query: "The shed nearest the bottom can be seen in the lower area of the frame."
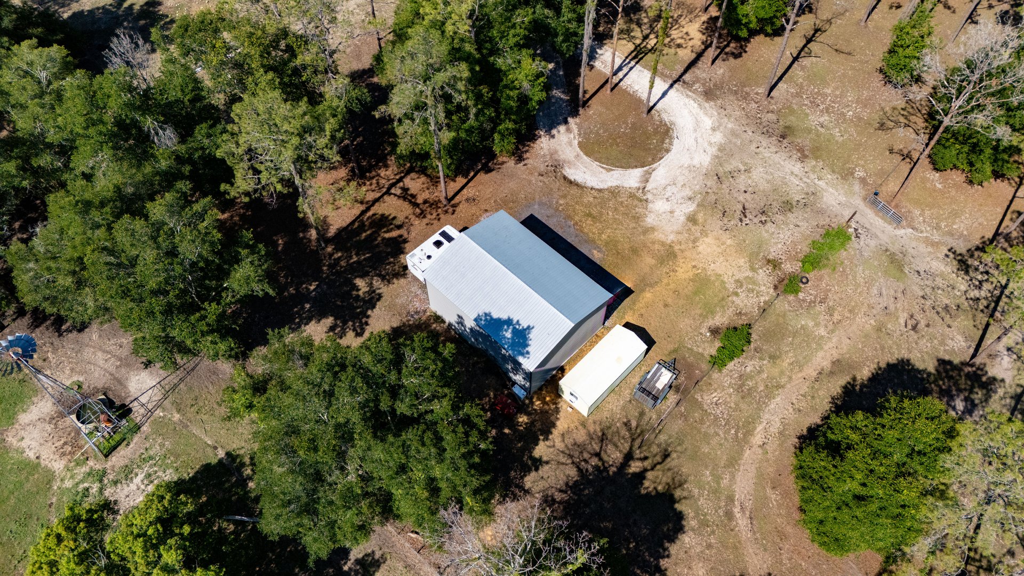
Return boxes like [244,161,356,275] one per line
[560,325,648,417]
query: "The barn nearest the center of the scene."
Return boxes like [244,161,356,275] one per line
[421,216,616,398]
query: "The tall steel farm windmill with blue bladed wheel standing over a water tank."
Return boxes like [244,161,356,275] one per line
[0,331,134,455]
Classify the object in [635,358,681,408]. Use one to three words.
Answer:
trailer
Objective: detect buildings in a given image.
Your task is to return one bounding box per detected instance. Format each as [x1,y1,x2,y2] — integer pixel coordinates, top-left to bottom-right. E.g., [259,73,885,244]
[421,216,616,398]
[560,325,648,417]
